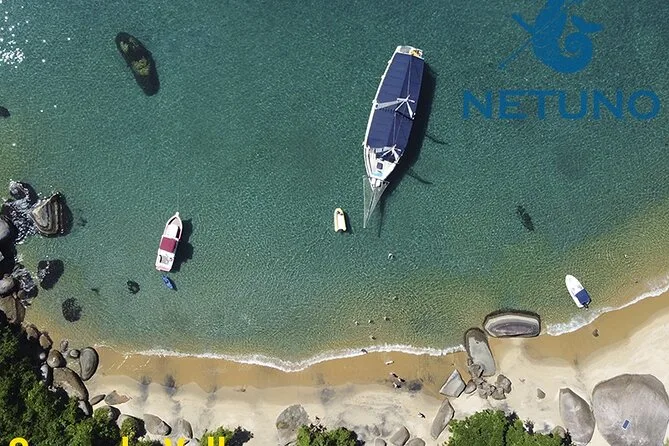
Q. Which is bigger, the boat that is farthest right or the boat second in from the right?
the boat second in from the right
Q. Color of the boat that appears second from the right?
blue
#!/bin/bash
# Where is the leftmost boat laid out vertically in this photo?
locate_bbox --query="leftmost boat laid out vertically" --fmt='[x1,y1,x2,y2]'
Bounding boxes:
[155,211,182,274]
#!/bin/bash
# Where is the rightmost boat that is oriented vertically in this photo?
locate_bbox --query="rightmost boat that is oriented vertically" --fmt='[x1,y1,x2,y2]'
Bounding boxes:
[365,46,425,229]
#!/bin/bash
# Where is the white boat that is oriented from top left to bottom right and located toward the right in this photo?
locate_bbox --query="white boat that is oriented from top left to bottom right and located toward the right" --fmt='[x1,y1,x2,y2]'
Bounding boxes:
[565,274,593,306]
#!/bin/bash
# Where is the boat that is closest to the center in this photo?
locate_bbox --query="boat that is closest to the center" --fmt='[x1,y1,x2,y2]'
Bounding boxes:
[334,208,347,232]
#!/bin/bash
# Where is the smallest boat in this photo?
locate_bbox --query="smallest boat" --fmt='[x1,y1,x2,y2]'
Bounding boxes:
[160,274,174,289]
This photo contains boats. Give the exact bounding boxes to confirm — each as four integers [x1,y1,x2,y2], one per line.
[365,46,425,229]
[155,211,182,274]
[565,274,593,306]
[334,208,347,232]
[160,274,174,289]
